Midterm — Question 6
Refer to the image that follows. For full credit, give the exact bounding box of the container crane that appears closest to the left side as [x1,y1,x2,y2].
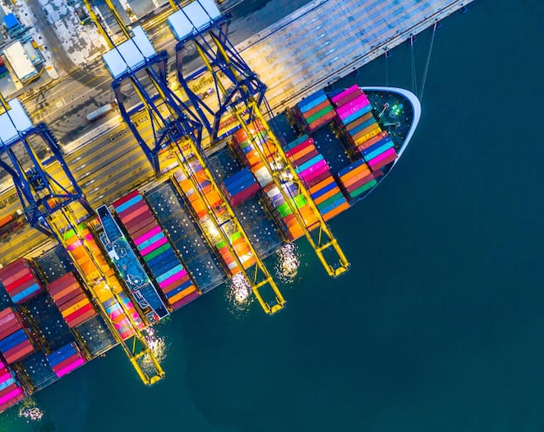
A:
[0,93,164,385]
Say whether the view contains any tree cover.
No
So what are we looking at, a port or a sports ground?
port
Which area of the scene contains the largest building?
top left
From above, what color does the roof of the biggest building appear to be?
white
